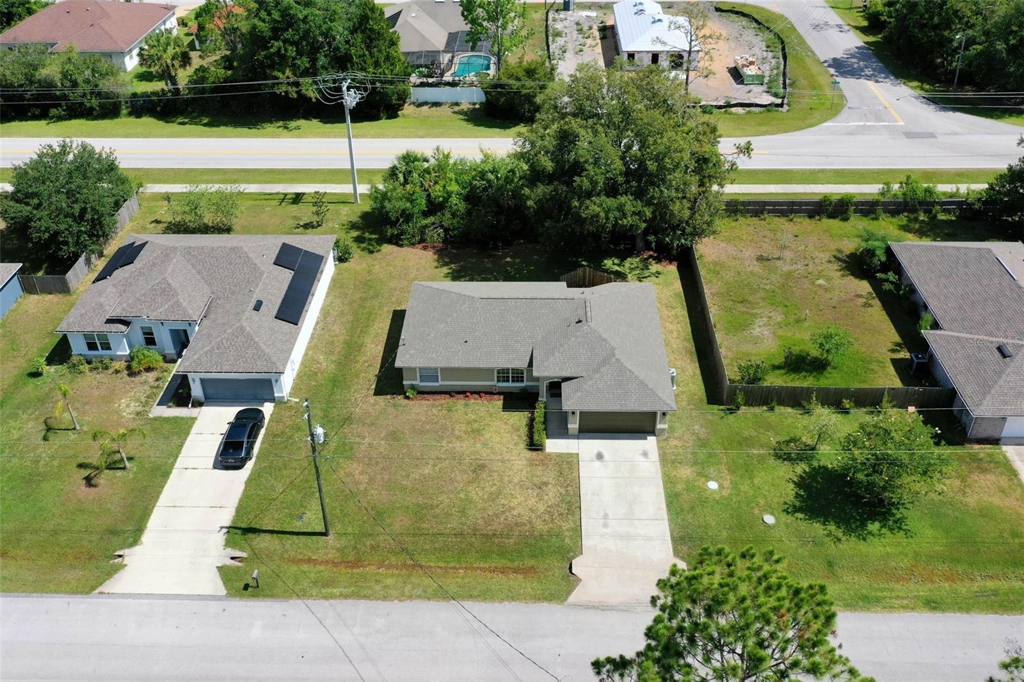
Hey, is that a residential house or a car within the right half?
residential house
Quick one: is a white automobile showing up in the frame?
No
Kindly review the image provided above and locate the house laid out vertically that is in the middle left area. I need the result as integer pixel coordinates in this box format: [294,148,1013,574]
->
[0,263,31,335]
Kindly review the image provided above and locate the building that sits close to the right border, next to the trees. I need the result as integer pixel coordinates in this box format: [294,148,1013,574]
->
[888,242,1024,441]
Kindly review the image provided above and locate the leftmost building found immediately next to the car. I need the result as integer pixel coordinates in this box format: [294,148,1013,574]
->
[60,234,334,404]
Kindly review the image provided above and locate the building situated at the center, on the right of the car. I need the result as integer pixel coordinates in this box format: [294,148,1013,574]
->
[395,281,676,435]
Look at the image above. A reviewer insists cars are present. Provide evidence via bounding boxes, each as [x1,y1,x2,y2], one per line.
[216,402,270,464]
